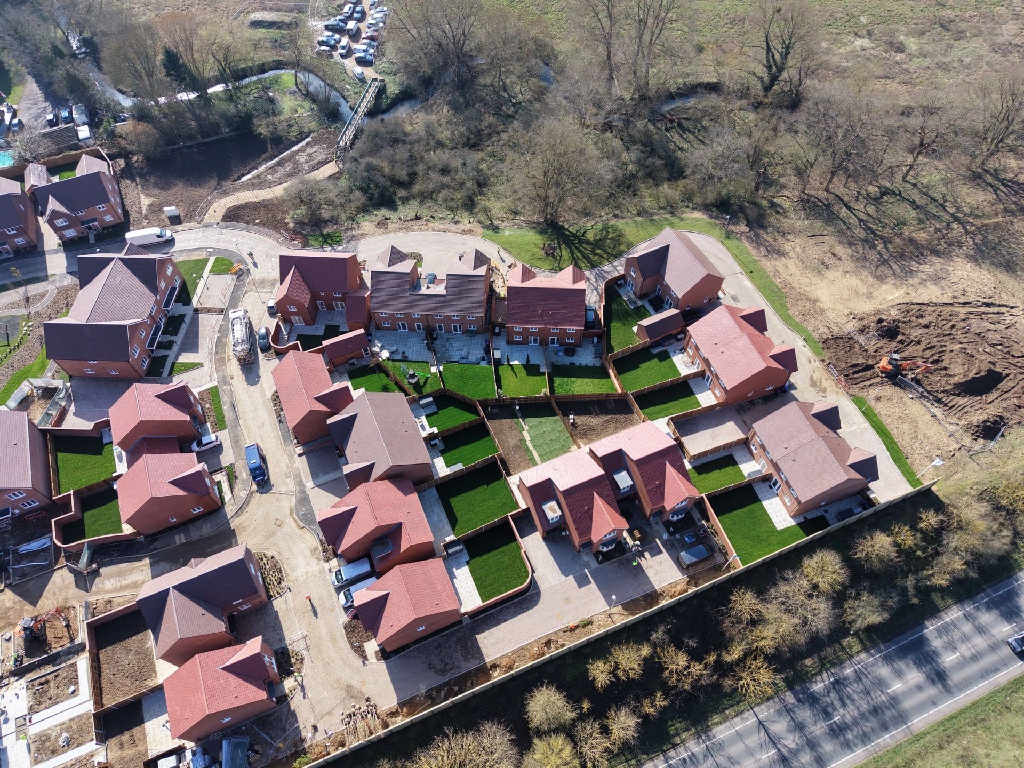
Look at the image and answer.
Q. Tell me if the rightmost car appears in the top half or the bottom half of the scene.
bottom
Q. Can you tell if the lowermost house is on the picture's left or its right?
left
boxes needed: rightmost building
[747,400,878,516]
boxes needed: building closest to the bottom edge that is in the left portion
[163,635,281,742]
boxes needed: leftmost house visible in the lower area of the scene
[0,411,51,519]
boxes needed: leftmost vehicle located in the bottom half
[6,615,58,651]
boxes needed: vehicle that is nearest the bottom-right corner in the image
[1003,629,1024,654]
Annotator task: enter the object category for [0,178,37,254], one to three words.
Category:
house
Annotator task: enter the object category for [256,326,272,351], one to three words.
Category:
car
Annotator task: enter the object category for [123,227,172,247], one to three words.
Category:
vehicle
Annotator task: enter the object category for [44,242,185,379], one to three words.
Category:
building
